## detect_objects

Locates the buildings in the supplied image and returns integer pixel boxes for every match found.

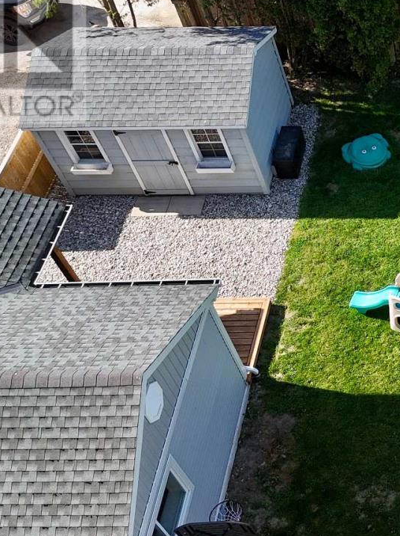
[20,30,293,197]
[0,185,275,536]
